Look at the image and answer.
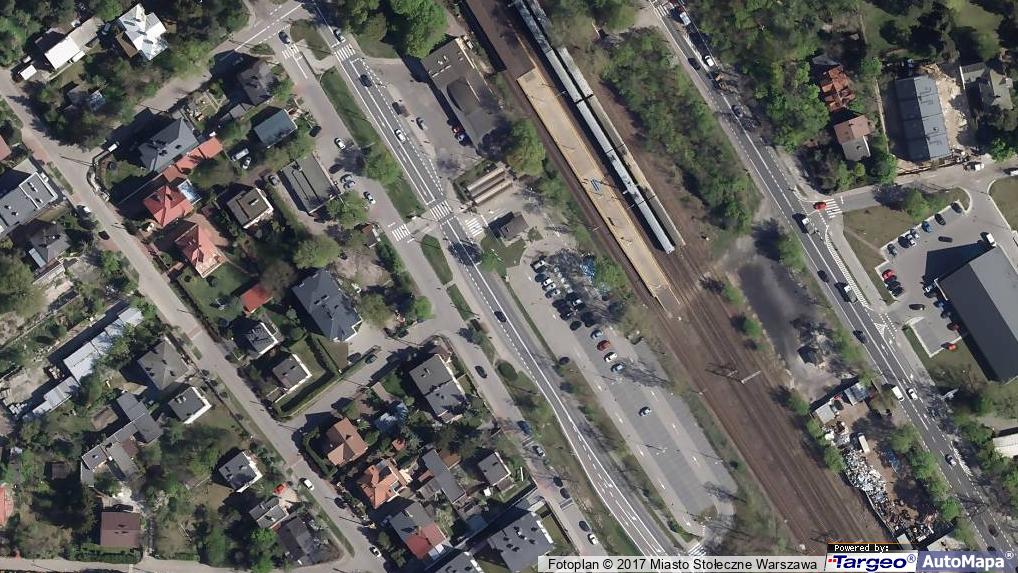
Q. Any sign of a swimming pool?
No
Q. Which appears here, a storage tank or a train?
train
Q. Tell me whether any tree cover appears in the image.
Yes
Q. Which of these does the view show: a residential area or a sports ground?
residential area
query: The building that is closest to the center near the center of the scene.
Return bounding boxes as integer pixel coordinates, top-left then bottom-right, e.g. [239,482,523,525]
[501,213,531,241]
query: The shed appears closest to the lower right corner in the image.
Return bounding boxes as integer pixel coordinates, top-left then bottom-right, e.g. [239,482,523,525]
[928,536,960,567]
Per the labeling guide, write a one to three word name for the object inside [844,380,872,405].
shed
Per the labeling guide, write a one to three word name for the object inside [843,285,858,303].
vehicle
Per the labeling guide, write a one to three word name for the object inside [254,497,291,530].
house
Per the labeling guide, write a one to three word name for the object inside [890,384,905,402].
vehicle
